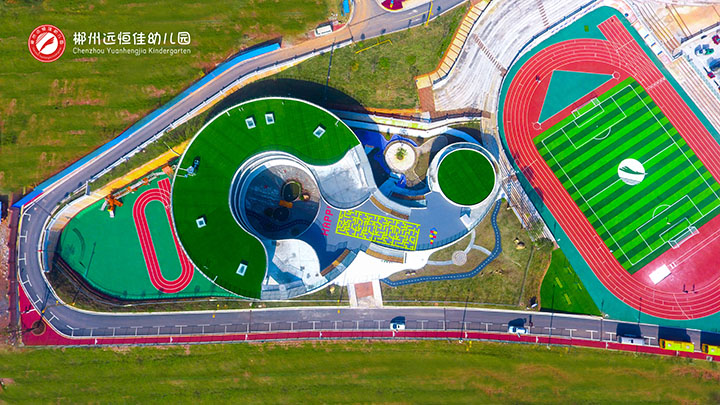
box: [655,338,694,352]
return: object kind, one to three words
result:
vehicle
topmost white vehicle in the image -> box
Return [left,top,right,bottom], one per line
[314,27,334,40]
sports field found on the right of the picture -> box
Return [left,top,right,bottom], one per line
[498,6,720,330]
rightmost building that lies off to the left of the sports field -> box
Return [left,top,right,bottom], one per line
[169,96,502,302]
